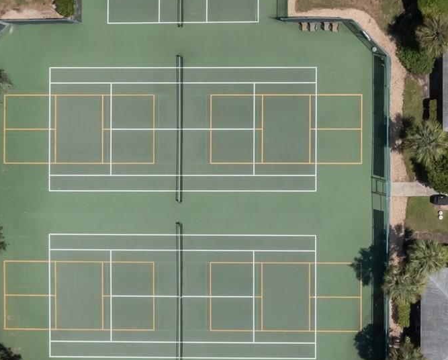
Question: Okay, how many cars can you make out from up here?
none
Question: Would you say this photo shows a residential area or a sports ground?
sports ground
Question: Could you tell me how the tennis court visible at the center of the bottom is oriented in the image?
horizontally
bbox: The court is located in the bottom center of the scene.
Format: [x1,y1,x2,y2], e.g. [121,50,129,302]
[4,234,363,359]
